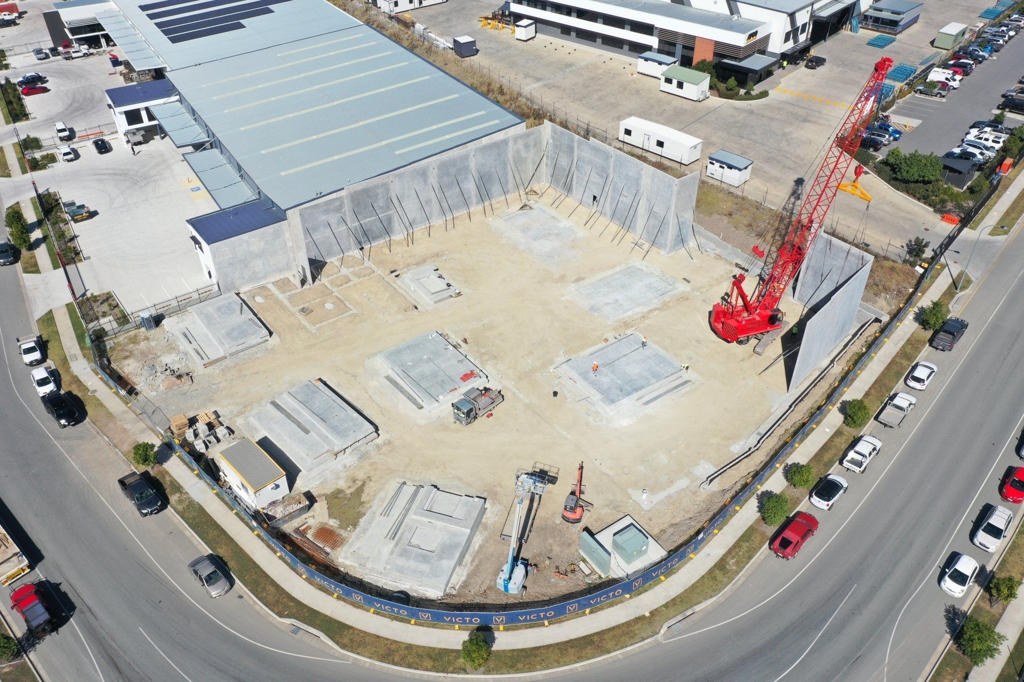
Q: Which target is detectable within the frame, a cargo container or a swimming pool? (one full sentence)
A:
Visible in the photo is a cargo container.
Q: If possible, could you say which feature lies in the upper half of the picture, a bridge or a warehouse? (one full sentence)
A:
It is a warehouse that can be seen in the upper half of the picture.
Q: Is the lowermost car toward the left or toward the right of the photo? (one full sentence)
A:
The lowermost car is on the left side of the image.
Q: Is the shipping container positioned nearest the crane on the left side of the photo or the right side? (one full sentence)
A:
The shipping container positioned nearest the crane is on the right side of the image.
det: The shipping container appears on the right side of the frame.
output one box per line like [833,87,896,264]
[935,22,968,49]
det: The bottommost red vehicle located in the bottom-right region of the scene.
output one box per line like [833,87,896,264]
[773,514,816,559]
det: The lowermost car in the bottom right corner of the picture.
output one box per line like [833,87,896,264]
[940,550,980,601]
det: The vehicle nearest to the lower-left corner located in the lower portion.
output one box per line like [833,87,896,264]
[10,580,54,634]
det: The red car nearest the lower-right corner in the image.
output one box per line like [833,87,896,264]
[1000,462,1024,504]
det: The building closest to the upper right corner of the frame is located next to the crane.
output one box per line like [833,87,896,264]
[862,0,924,42]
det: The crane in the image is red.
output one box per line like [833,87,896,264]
[711,63,892,359]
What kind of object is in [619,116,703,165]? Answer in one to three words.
building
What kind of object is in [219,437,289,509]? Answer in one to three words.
shed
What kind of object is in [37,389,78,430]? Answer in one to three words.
truck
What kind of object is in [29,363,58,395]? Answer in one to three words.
car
